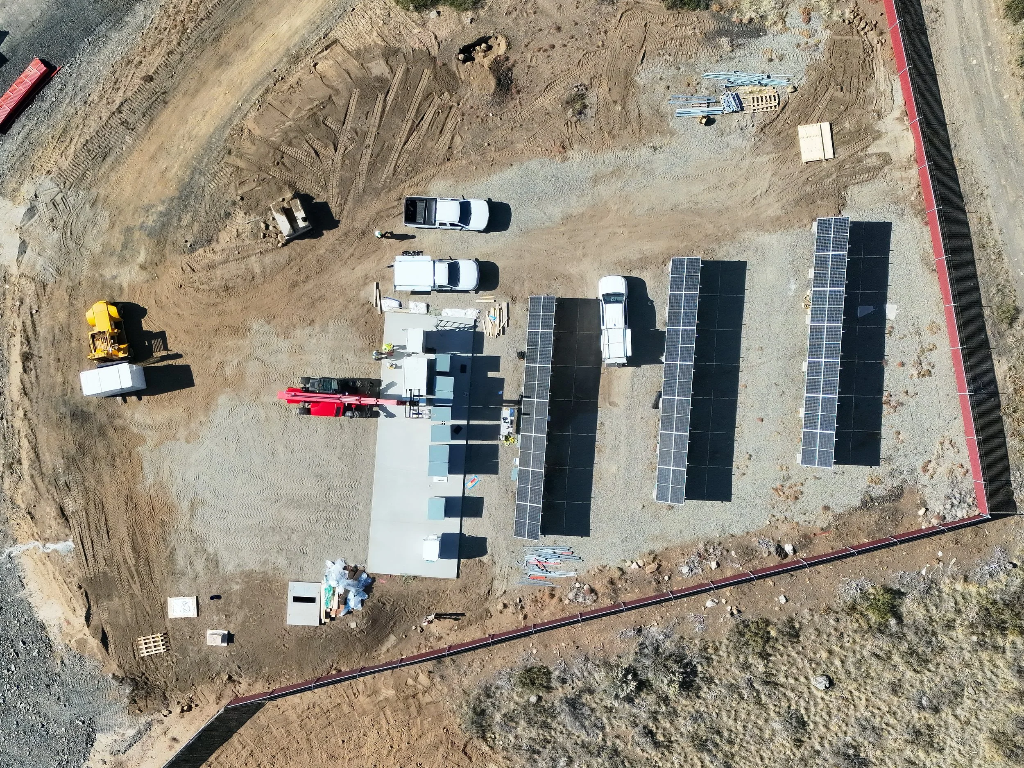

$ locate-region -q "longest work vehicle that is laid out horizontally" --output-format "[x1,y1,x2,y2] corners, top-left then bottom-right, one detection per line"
[275,376,431,422]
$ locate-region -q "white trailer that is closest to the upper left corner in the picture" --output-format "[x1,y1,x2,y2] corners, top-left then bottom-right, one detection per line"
[80,363,145,401]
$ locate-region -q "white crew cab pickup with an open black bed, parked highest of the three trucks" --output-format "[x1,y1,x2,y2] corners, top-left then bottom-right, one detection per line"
[403,193,491,231]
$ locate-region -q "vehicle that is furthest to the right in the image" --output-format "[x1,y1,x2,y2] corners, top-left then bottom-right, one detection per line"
[595,278,635,370]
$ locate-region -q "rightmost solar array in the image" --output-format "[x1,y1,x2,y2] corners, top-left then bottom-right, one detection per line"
[795,215,853,470]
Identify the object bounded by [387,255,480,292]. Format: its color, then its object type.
white truck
